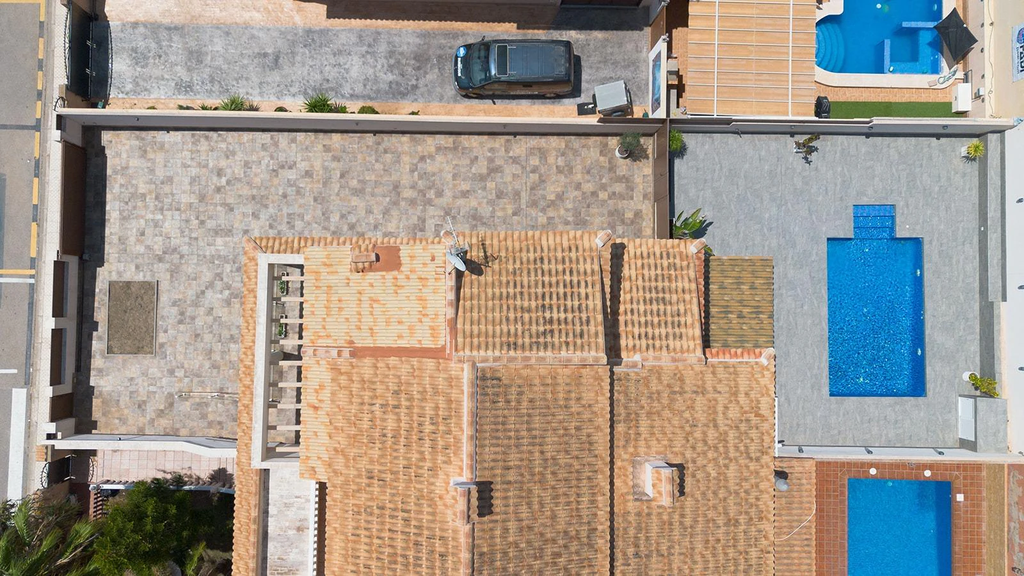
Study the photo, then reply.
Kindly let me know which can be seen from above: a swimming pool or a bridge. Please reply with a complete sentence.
The one in the frame is a swimming pool.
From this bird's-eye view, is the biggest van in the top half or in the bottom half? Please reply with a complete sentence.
The top half of the photo is where the biggest van is.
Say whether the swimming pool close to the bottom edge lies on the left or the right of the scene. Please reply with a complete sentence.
The swimming pool close to the bottom edge sits on the right side.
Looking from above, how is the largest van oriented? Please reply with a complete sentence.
From this overhead view, the largest van appears to run from side to side.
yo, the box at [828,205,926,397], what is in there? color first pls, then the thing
blue swimming pool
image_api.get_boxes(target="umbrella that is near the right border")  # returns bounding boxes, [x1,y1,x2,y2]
[933,8,977,70]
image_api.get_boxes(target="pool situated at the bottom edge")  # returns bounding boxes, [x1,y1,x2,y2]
[848,479,951,576]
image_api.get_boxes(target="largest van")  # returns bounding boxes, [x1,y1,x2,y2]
[452,40,574,102]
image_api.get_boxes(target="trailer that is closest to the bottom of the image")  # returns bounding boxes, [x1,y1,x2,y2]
[585,81,630,115]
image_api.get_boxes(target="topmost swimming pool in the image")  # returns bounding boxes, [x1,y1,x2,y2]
[815,0,943,73]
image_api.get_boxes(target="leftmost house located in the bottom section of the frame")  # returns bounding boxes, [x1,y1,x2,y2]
[231,228,779,576]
